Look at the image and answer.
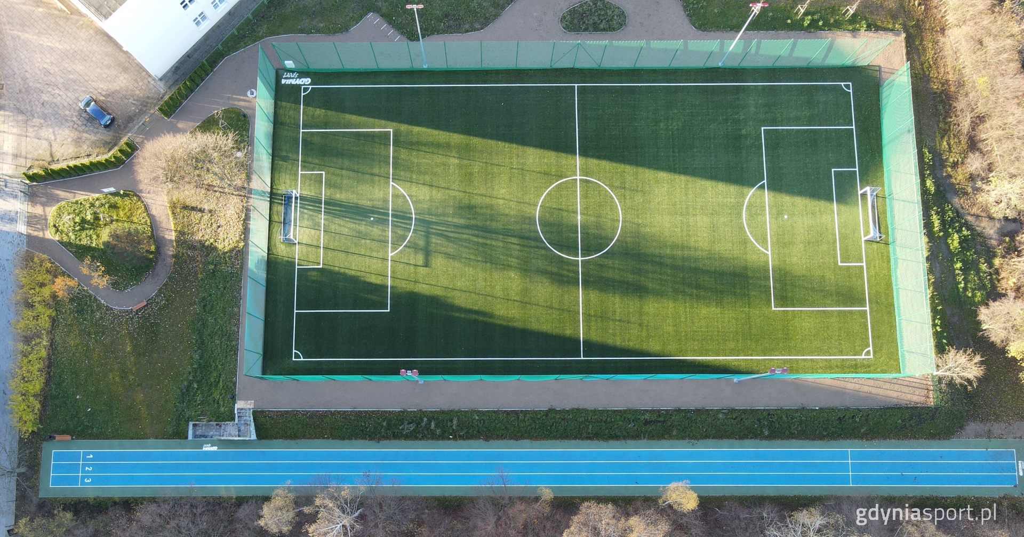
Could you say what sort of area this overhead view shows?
sports ground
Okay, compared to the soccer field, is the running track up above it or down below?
below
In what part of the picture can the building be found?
top left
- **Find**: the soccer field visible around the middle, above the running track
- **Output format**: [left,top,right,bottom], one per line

[263,66,897,376]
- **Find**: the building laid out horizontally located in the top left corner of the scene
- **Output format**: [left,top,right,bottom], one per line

[72,0,239,78]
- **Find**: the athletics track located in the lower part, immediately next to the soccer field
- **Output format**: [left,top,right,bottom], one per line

[37,439,1024,500]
